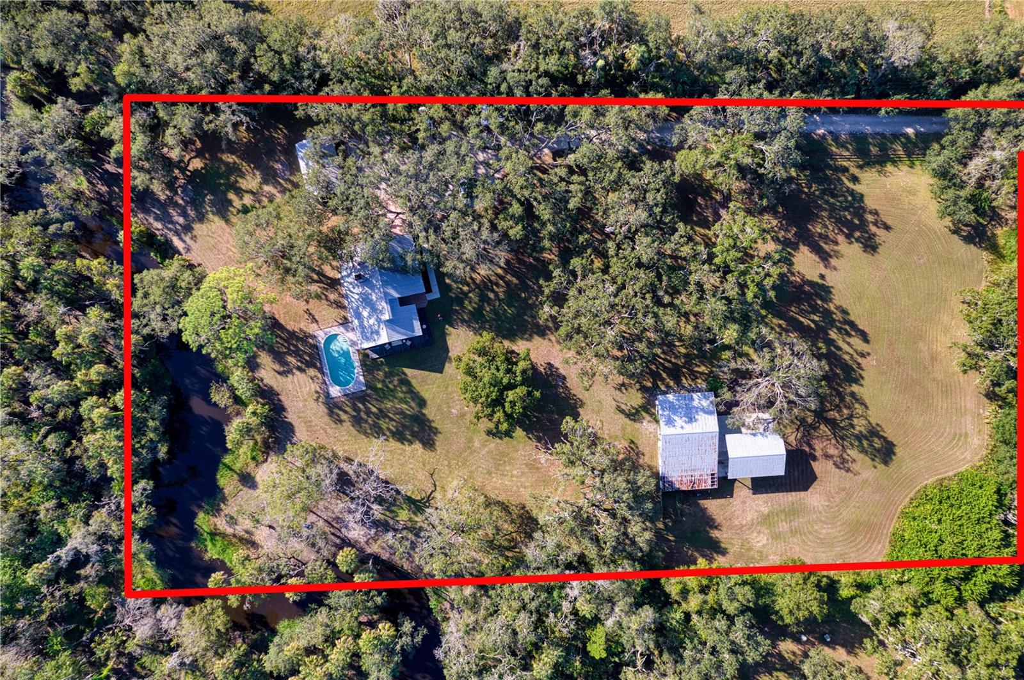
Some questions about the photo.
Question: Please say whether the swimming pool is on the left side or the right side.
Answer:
left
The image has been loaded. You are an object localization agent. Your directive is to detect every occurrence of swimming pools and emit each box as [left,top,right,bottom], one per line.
[317,332,361,389]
